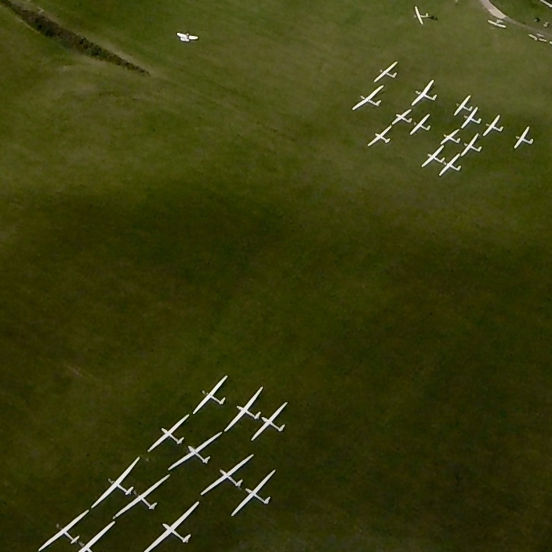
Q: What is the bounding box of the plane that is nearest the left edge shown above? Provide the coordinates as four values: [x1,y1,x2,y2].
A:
[39,511,89,550]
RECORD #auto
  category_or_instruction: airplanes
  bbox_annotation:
[225,388,263,429]
[441,154,461,174]
[441,130,461,144]
[514,128,533,147]
[92,456,138,508]
[368,125,391,146]
[174,31,199,40]
[483,116,503,135]
[232,469,274,517]
[462,135,481,154]
[412,79,435,105]
[252,402,286,442]
[414,6,429,25]
[411,115,432,133]
[353,85,383,109]
[391,108,412,125]
[375,62,399,79]
[168,431,221,471]
[202,456,253,493]
[462,108,481,126]
[113,473,169,520]
[421,145,445,168]
[145,501,198,552]
[488,18,506,28]
[193,376,227,413]
[80,520,114,552]
[454,96,474,114]
[148,416,189,450]
[39,511,89,550]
